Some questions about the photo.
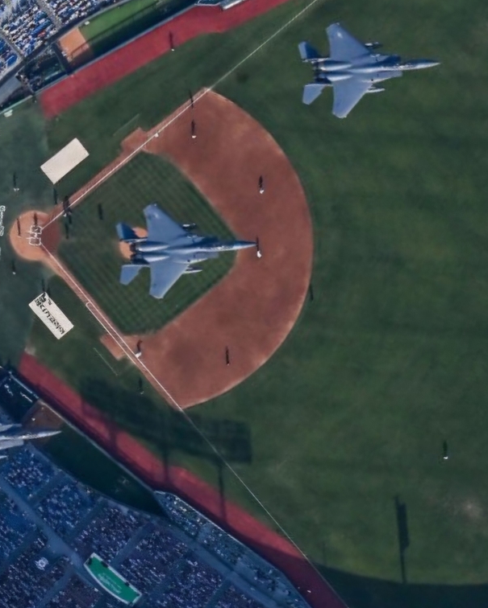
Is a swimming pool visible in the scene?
No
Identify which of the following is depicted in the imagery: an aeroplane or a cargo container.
aeroplane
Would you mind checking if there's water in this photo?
No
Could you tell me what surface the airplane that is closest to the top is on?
grass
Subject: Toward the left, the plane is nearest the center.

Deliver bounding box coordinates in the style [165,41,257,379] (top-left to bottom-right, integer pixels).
[115,206,254,300]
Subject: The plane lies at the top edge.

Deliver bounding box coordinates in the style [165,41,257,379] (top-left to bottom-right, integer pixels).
[299,24,440,119]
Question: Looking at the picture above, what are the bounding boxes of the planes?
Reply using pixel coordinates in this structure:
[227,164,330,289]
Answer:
[299,24,440,119]
[0,422,61,464]
[115,206,254,300]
